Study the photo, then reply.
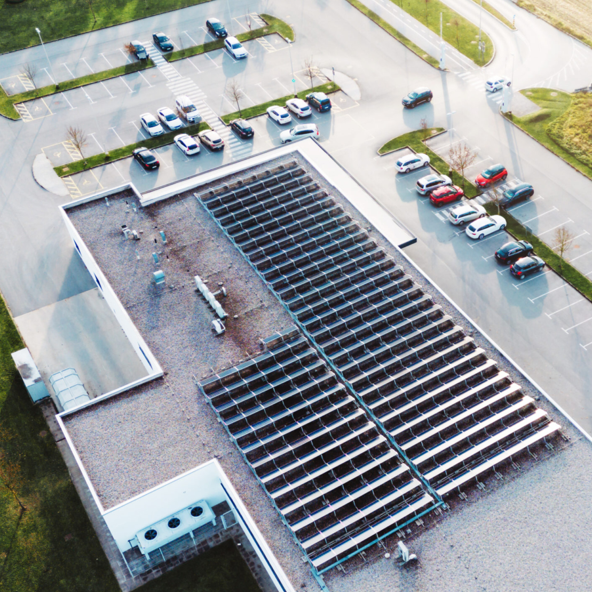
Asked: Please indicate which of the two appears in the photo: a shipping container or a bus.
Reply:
shipping container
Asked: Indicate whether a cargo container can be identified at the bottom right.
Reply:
No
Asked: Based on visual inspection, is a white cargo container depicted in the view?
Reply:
Yes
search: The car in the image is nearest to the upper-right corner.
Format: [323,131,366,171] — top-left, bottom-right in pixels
[485,76,512,94]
